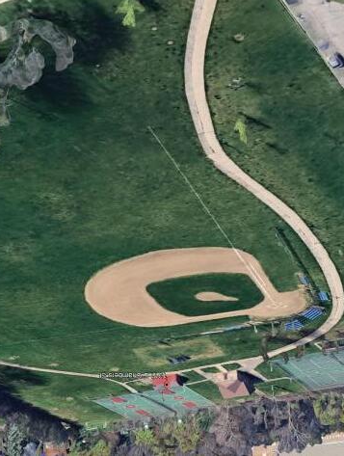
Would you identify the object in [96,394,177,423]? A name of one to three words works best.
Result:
basketball court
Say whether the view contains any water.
No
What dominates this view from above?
grass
